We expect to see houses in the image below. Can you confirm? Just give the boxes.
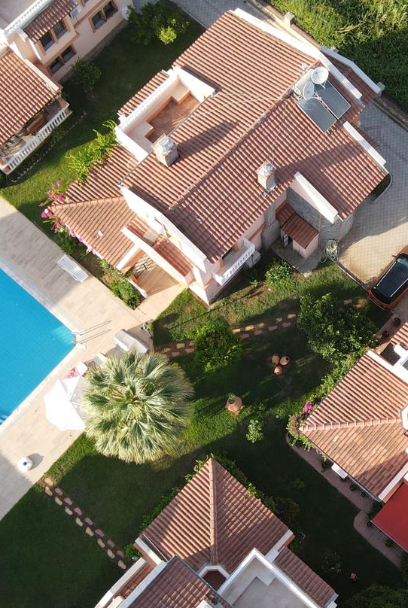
[113,457,350,608]
[297,320,408,508]
[45,6,393,314]
[0,0,148,186]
